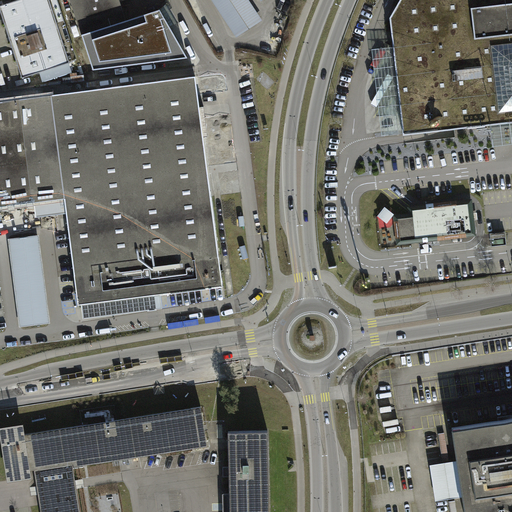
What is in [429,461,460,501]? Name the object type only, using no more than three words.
shed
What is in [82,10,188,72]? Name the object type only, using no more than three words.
building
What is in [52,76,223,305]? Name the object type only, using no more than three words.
building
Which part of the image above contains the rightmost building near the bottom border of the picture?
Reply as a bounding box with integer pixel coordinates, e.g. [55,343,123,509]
[449,417,512,512]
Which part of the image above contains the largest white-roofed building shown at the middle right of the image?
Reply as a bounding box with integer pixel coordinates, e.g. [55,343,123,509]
[394,200,476,246]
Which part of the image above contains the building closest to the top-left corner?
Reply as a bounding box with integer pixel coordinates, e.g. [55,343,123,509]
[0,0,70,78]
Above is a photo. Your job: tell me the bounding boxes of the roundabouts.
[273,298,352,376]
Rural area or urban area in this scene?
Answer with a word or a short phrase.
urban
